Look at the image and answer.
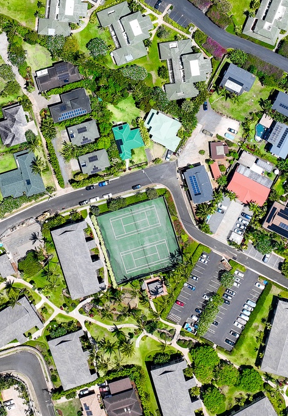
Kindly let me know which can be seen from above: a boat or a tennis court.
tennis court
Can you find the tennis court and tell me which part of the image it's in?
center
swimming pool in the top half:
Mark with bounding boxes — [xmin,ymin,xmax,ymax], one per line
[253,121,267,142]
